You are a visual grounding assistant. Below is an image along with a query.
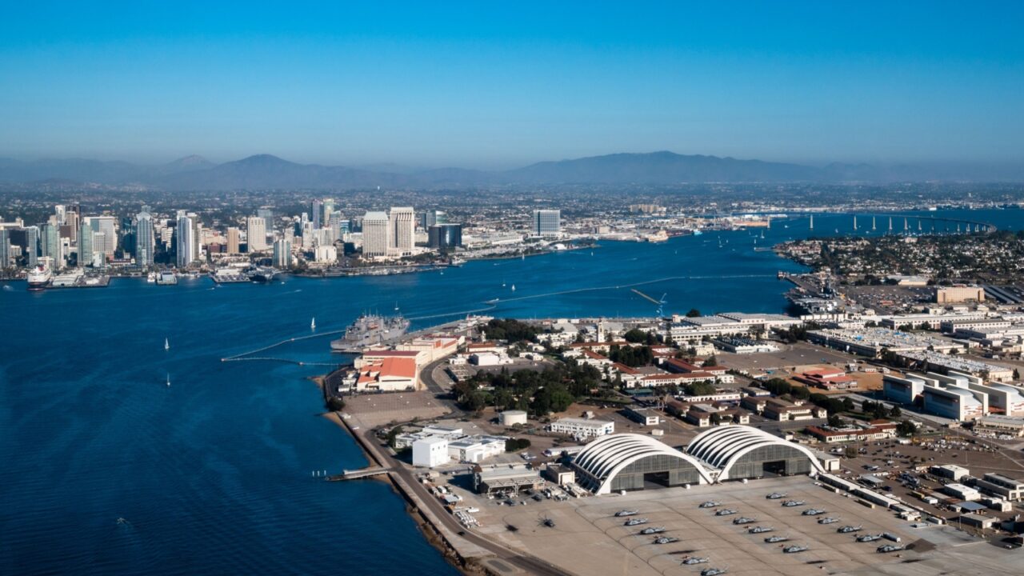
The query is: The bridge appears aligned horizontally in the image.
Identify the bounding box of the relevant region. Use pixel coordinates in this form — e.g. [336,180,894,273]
[728,214,1000,233]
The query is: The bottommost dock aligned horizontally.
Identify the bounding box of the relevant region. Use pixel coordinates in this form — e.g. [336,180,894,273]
[327,470,388,484]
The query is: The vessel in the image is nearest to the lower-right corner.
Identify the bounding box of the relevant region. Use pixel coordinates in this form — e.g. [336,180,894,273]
[790,274,833,312]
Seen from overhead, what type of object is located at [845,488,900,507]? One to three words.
shed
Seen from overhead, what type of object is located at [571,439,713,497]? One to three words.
hangar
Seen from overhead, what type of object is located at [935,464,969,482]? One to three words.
building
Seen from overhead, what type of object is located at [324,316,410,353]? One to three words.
ship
